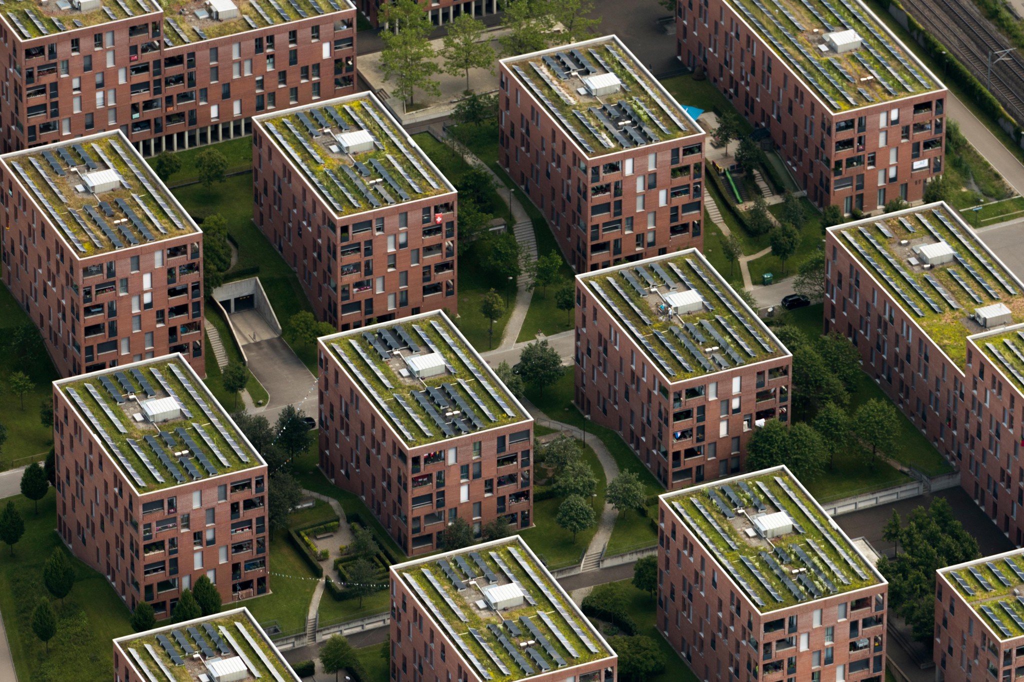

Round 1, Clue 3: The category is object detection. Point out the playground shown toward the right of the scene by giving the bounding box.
[692,110,742,165]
